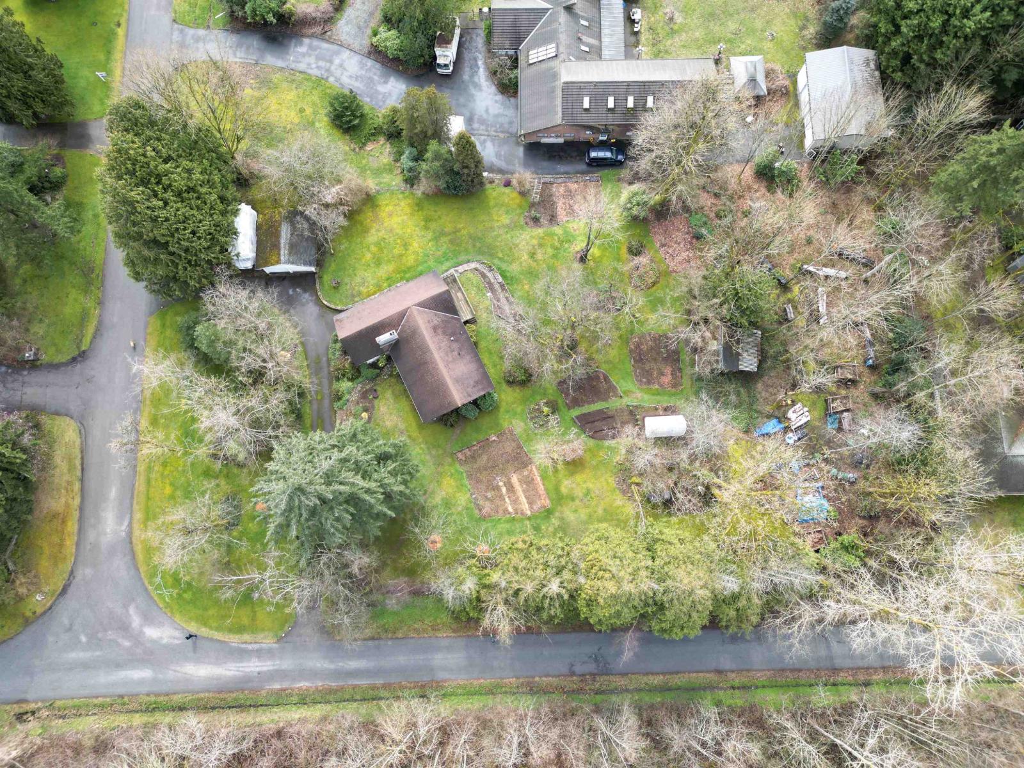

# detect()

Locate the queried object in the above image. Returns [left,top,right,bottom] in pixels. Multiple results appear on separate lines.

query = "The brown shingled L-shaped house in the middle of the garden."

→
[334,270,494,423]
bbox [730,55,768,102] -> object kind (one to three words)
building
